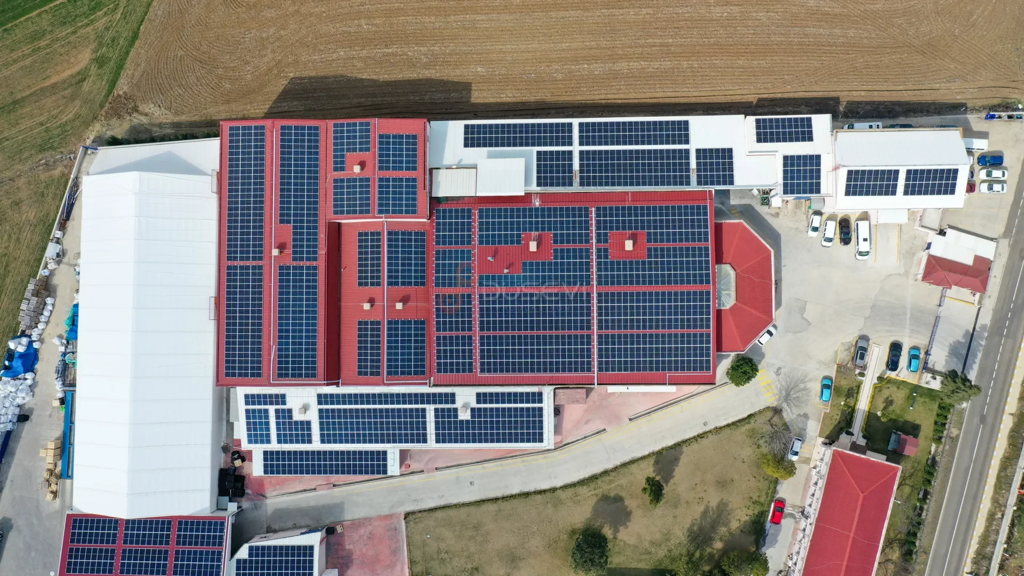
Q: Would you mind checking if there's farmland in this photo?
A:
Yes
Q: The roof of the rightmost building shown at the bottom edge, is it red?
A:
Yes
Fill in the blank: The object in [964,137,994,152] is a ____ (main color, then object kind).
white vehicle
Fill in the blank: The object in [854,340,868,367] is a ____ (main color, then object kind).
gray car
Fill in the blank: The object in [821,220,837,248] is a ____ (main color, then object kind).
white car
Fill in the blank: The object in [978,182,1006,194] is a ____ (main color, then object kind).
white vehicle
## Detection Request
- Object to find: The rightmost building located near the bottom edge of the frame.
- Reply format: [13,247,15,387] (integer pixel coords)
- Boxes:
[778,447,901,576]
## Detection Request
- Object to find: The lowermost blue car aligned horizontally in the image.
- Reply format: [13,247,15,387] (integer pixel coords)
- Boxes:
[976,153,1005,165]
